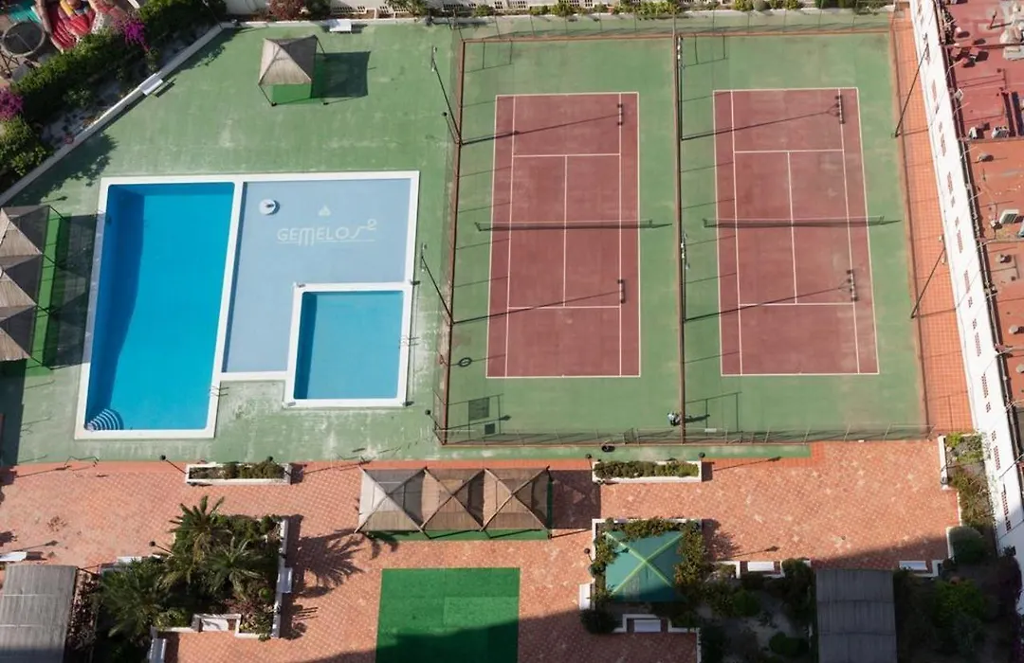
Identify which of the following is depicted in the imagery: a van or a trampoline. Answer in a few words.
trampoline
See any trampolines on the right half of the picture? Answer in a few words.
No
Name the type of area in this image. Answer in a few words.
sports ground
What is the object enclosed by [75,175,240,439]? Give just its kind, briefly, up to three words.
swimming pool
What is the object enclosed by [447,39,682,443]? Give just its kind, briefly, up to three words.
tennis court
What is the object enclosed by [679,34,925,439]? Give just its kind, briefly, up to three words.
tennis court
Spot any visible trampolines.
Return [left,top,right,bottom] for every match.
[1,21,47,62]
